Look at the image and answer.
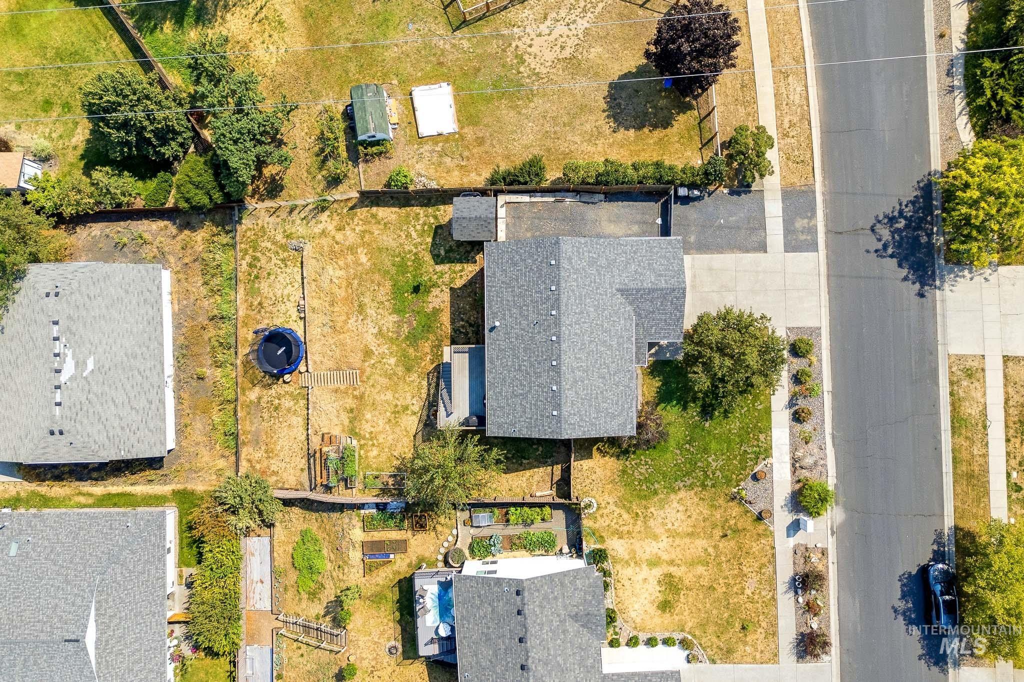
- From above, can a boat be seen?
No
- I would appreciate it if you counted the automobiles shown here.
1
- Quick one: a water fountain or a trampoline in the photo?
trampoline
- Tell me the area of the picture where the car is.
bottom right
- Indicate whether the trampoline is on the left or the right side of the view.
left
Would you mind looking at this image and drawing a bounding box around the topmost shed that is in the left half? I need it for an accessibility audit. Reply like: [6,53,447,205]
[350,82,395,146]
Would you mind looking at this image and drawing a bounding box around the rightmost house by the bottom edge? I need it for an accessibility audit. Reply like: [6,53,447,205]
[453,547,682,682]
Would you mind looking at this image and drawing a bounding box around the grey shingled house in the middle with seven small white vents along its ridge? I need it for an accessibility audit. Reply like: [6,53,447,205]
[484,236,687,439]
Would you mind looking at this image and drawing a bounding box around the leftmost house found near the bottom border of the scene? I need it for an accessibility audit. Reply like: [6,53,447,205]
[0,507,176,682]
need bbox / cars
[924,564,962,632]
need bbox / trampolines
[245,323,307,381]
